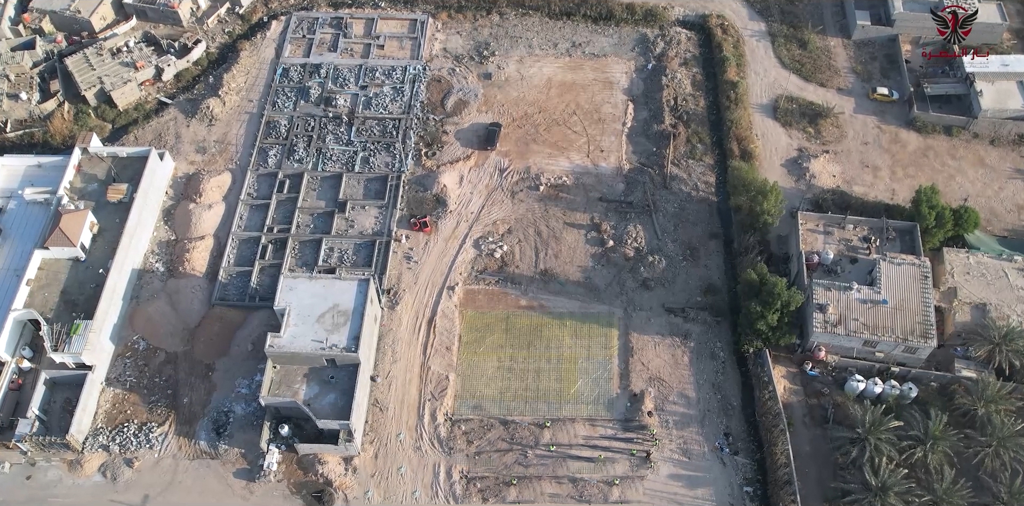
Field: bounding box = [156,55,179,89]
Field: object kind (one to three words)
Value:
shed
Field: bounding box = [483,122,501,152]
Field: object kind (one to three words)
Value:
car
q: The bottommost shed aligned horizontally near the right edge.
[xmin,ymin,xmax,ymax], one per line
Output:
[946,359,994,379]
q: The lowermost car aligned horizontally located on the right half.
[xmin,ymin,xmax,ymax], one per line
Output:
[870,87,902,103]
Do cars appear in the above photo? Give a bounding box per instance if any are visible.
[483,122,501,152]
[870,87,902,103]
